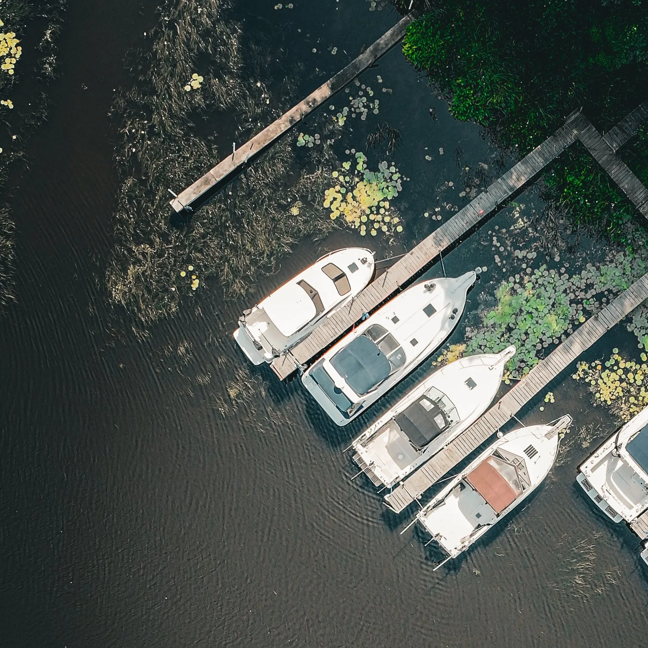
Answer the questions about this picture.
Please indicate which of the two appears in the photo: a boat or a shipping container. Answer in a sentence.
Looking from above, you can make out a boat.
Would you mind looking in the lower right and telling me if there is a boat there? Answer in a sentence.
Yes, the scene does show a boat in the lower right.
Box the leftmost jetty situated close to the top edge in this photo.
[166,0,422,215]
